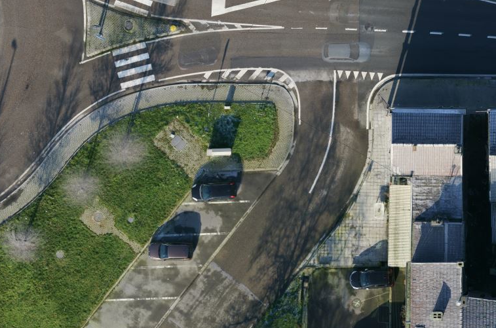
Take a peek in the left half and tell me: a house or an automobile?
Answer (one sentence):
The feature located in the left half is an automobile.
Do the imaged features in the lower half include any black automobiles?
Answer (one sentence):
Yes, you'll find a black automobile in the lower half.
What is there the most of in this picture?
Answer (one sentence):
The bulk of the photo consists of paved ground.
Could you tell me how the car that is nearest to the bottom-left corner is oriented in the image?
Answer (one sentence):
The car that is nearest to the bottom-left corner has been laid out from side to side relative to the frame.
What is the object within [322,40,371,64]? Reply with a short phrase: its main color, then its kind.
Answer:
gray car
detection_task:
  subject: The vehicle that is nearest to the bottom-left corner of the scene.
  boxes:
[149,240,193,262]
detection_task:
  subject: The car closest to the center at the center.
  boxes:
[191,180,237,203]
